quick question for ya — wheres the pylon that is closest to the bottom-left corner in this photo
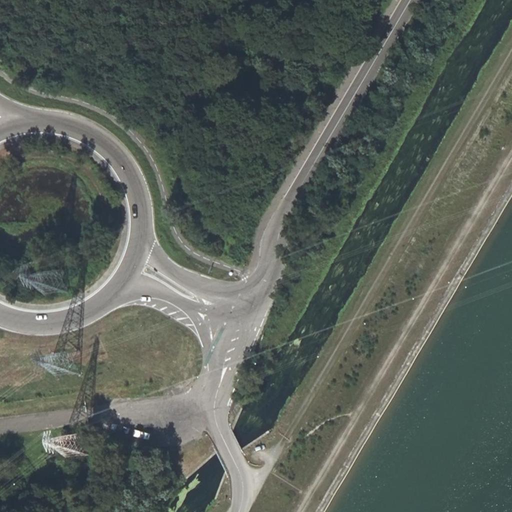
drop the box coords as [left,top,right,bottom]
[42,432,84,461]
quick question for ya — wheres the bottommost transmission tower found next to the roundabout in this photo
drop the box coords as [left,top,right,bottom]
[34,348,82,380]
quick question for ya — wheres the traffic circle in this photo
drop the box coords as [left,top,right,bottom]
[0,108,154,336]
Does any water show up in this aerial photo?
Yes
